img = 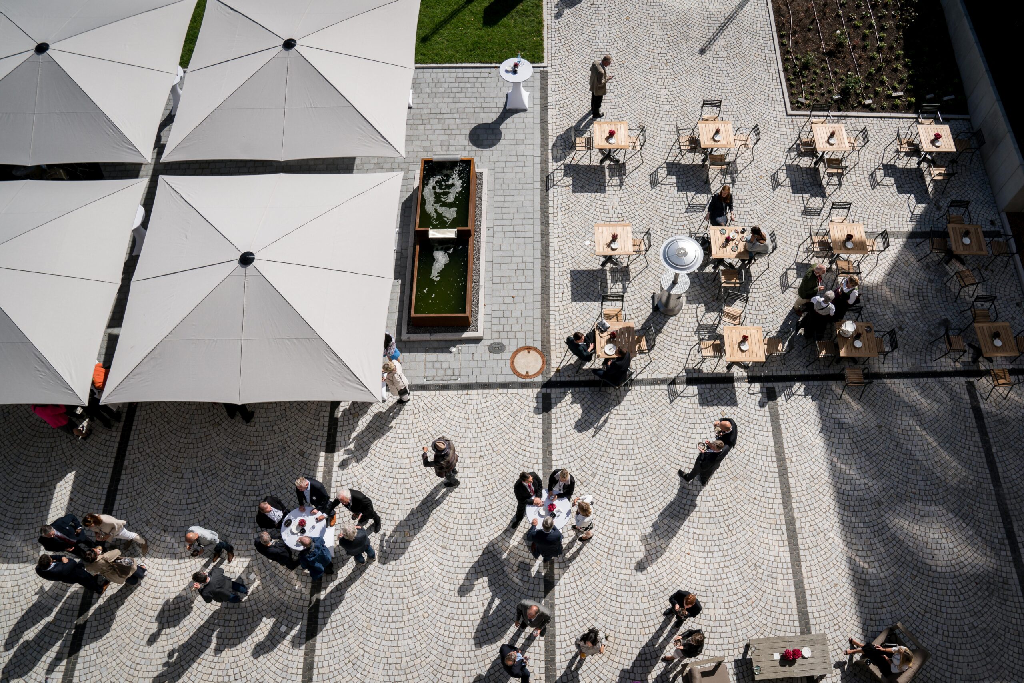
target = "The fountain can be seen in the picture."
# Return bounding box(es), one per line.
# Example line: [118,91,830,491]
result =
[411,151,475,327]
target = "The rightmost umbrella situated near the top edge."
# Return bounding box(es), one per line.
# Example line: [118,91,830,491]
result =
[161,0,419,167]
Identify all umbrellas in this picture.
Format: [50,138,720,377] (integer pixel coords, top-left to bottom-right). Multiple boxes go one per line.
[99,173,404,406]
[161,0,419,167]
[0,178,150,408]
[0,0,193,170]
